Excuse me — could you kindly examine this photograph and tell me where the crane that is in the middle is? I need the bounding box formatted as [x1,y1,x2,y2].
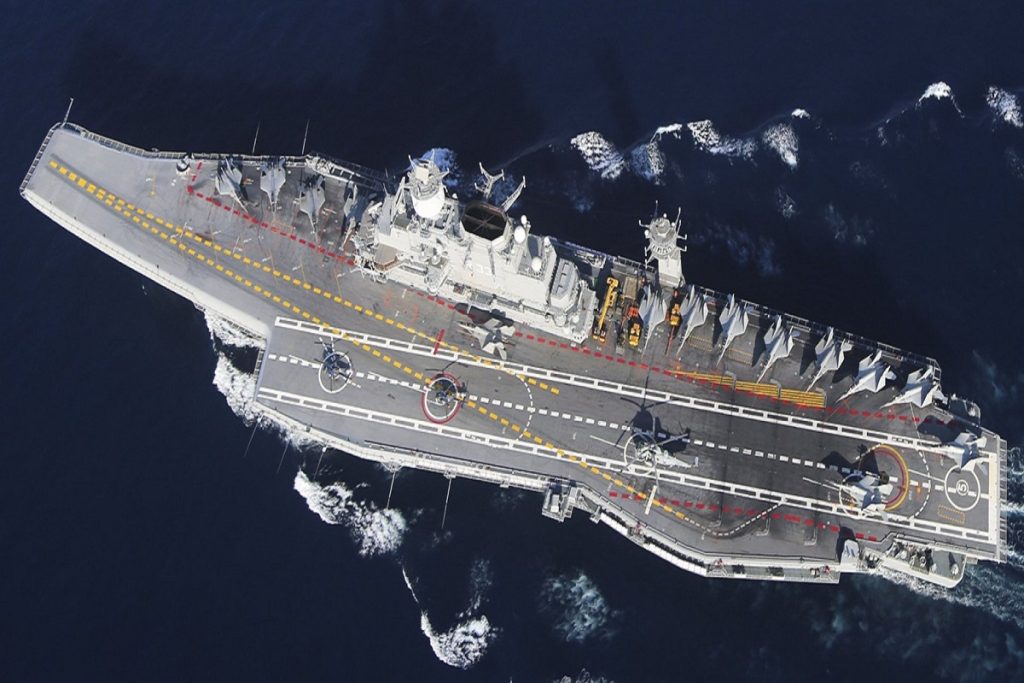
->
[595,276,619,331]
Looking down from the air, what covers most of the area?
water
